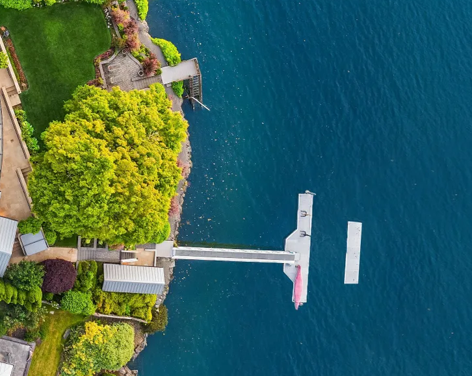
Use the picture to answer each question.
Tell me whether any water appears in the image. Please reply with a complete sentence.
Yes, there is water in the image.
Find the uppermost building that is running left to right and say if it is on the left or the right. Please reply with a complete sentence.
The uppermost building that is running left to right sits on the left side.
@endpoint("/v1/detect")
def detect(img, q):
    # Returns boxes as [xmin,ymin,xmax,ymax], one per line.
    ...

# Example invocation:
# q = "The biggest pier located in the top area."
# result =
[162,58,200,83]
